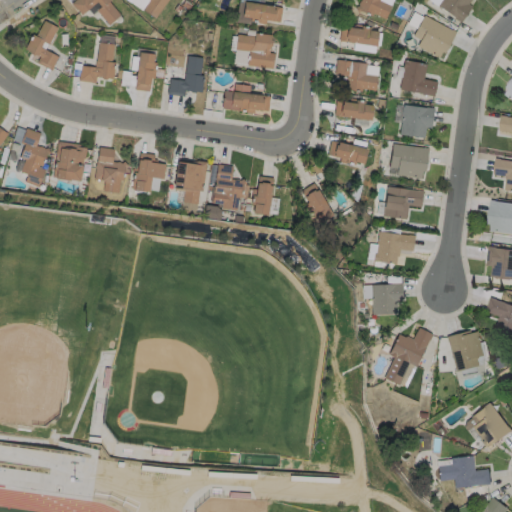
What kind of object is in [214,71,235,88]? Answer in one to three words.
swimming pool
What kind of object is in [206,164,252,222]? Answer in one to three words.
house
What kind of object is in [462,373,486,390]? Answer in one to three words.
swimming pool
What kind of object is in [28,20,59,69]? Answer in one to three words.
house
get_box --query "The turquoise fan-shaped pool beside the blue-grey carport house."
[4,174,28,190]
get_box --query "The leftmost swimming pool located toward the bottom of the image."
[372,354,388,377]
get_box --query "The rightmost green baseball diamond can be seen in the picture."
[104,234,326,459]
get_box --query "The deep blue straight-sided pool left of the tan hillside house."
[446,407,467,426]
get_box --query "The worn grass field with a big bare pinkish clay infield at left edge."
[0,206,138,440]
